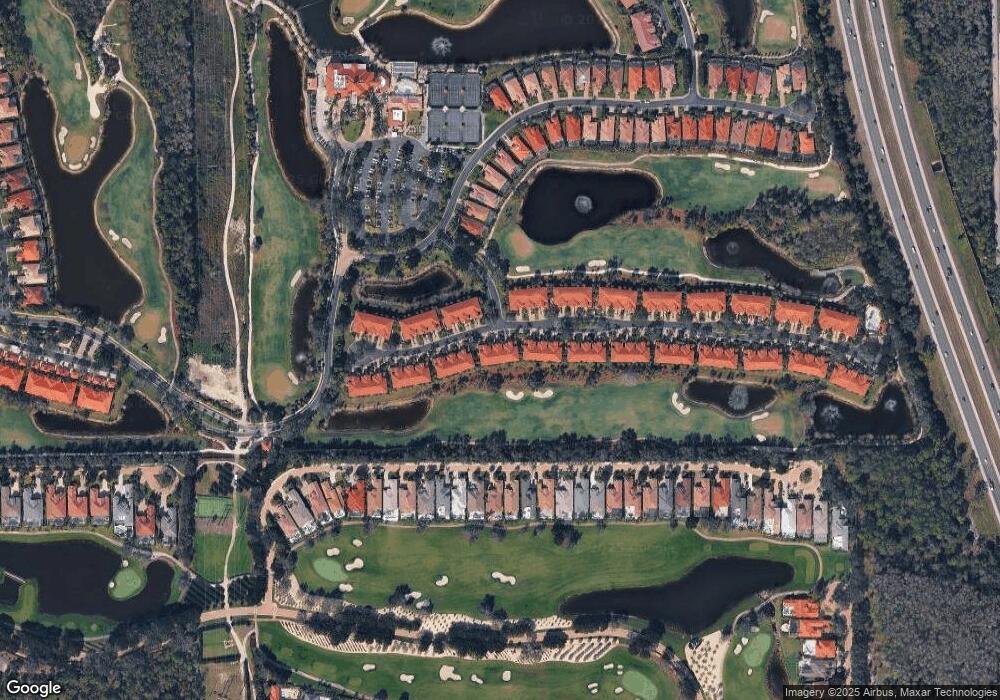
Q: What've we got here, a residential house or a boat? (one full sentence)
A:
The one in the frame is a residential house.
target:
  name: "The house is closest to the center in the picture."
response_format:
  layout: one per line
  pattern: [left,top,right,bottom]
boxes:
[479,342,520,365]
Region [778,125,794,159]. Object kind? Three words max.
house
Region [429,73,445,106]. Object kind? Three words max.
tennis court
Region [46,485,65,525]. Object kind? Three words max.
house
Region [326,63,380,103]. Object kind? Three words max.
building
